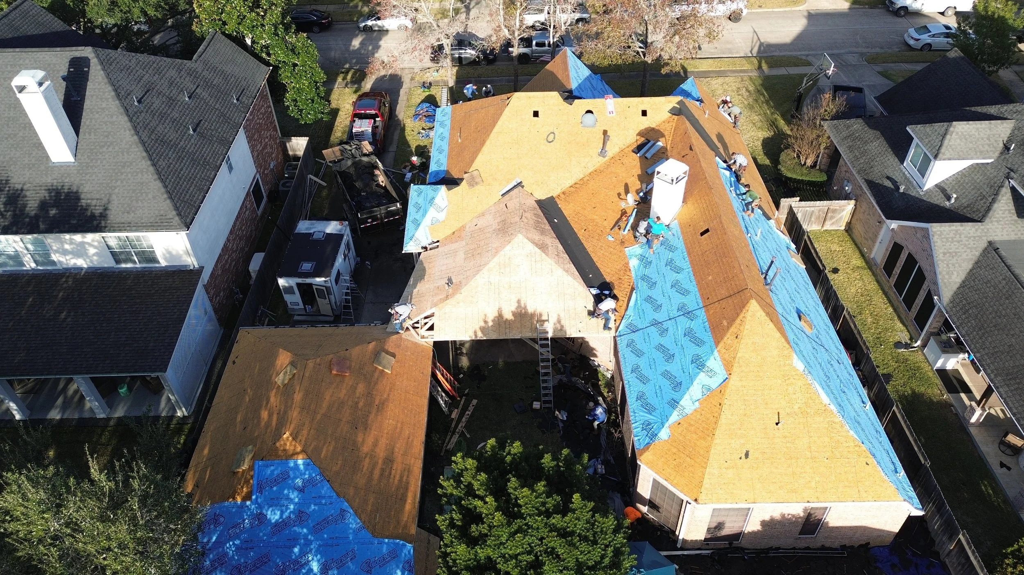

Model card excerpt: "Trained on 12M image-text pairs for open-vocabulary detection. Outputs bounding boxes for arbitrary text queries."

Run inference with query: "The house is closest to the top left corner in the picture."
[0,0,281,422]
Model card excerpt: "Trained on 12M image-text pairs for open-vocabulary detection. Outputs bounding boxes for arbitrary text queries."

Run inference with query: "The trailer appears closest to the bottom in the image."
[280,220,359,324]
